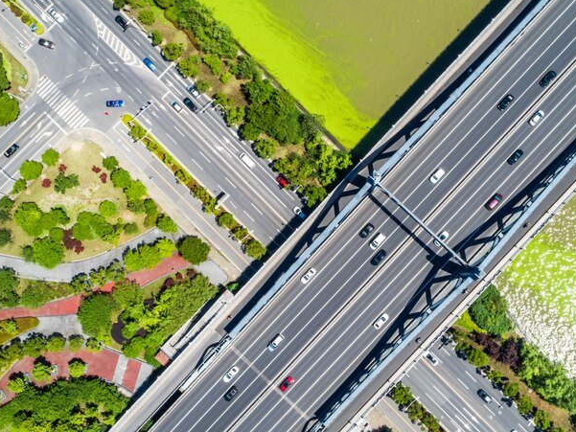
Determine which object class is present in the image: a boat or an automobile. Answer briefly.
automobile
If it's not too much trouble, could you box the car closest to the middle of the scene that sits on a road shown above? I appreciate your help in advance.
[290,203,307,221]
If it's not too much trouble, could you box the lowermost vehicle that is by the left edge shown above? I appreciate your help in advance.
[3,142,21,160]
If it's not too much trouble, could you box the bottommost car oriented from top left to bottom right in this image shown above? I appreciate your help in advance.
[475,387,492,405]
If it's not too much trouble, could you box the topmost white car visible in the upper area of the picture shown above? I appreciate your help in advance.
[49,5,66,22]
